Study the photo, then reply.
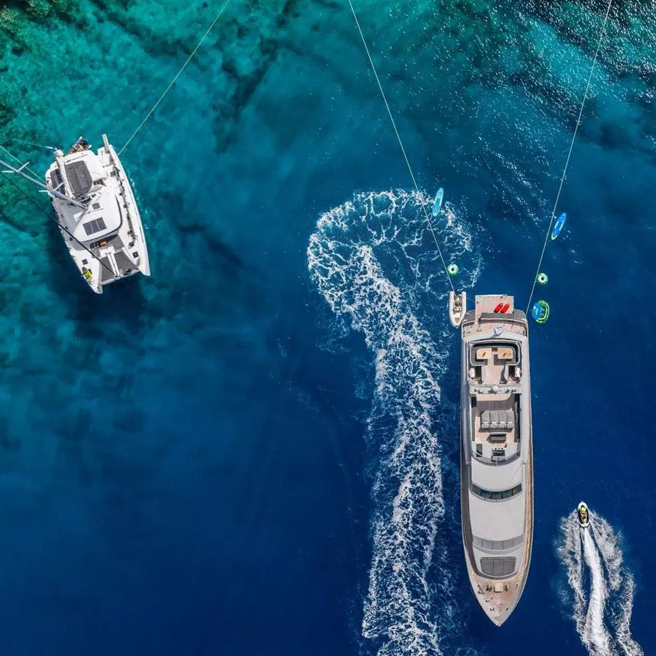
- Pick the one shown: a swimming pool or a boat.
boat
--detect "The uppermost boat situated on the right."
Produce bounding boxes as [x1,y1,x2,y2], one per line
[449,292,470,327]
